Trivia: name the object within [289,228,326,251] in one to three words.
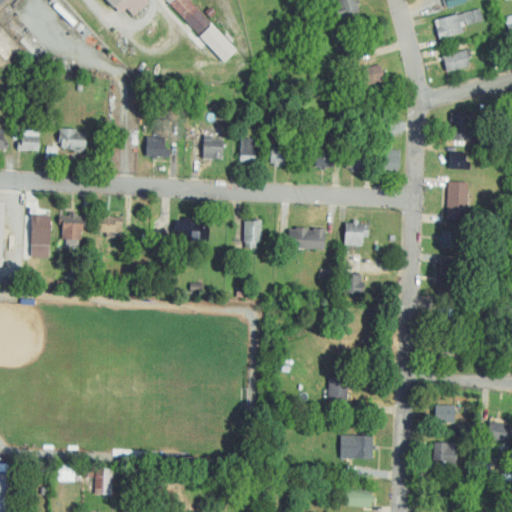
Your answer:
house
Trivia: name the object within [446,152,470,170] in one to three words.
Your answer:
house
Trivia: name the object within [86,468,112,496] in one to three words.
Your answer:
barn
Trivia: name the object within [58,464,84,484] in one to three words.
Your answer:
shed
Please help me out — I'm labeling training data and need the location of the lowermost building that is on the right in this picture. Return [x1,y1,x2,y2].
[347,490,376,511]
